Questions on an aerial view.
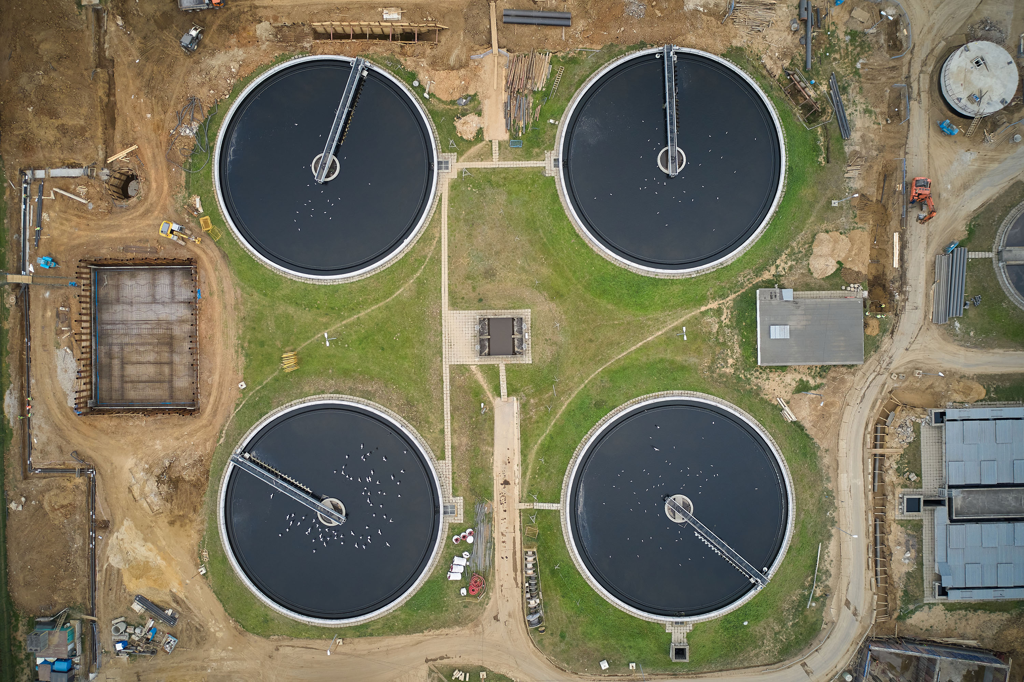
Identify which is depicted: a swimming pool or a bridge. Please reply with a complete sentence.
The image shows a bridge.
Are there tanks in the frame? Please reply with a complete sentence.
Yes, a tank is visible in the scene.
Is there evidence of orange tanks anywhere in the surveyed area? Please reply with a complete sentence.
No, I find no orange tank anywhere in the image.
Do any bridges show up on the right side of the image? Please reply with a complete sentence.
Yes, you'll find a bridge on the right side of the image.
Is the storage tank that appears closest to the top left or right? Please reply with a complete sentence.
The storage tank that appears closest to the top sits on the right side.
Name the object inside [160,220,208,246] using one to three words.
work vehicle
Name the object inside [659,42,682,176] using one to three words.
bridge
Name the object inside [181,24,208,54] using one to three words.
work vehicle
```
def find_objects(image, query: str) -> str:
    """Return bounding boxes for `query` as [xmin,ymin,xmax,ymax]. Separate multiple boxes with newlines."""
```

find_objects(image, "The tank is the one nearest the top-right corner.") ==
[937,38,1019,119]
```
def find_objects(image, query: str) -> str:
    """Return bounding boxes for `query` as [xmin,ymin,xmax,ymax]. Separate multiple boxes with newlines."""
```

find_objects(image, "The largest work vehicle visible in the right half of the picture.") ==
[908,181,931,228]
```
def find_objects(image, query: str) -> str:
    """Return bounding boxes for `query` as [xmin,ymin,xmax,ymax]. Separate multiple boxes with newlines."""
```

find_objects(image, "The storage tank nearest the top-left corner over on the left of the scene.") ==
[214,54,438,279]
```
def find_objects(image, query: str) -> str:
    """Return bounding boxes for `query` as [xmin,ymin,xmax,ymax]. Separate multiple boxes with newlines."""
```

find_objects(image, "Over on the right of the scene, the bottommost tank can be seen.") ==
[566,395,793,622]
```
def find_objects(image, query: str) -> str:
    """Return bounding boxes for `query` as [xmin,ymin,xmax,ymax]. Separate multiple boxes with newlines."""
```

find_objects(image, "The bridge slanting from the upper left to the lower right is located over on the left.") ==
[228,446,346,524]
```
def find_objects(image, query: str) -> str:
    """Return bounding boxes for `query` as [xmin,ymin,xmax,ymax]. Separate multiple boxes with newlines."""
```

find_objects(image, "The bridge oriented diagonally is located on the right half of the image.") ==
[666,497,772,592]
